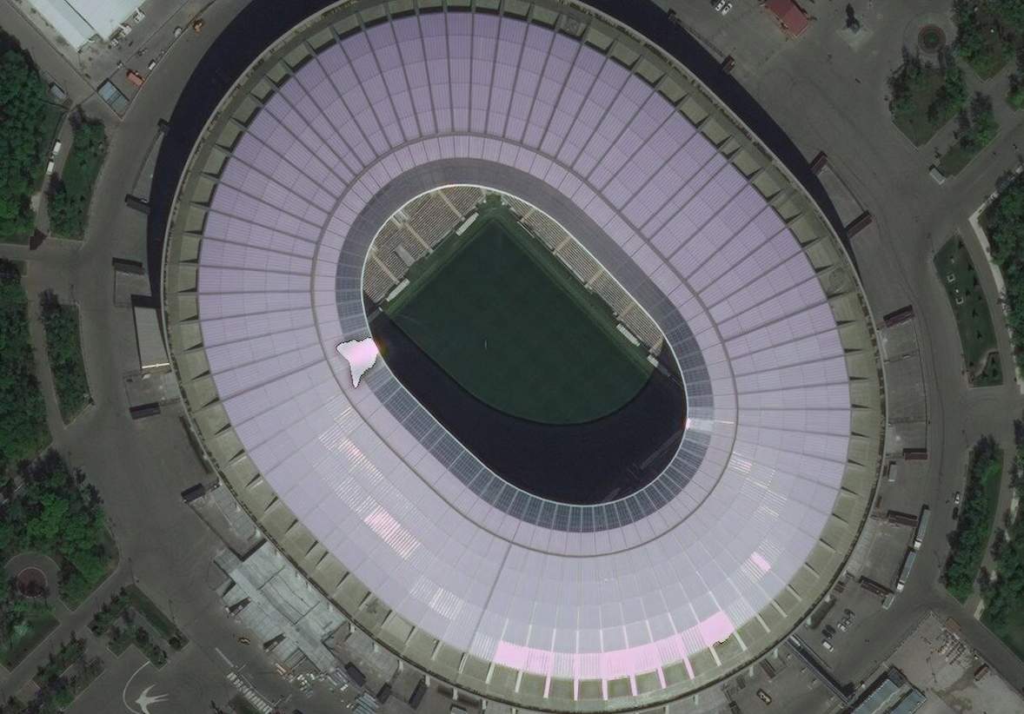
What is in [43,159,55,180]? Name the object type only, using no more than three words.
vehicle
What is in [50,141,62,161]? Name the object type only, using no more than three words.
vehicle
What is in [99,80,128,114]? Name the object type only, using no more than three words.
shed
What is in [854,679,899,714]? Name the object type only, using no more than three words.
building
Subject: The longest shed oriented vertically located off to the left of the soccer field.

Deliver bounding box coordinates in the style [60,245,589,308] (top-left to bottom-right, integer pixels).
[135,307,169,369]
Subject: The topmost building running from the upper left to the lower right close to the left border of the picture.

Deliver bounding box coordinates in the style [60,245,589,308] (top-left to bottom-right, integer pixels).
[25,0,96,50]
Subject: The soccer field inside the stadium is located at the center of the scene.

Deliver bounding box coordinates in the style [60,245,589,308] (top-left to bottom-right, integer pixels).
[369,188,686,505]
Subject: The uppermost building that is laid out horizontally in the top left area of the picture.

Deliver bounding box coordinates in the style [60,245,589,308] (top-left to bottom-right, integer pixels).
[65,0,150,42]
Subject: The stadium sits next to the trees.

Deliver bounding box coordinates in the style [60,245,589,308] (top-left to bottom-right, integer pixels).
[161,0,889,714]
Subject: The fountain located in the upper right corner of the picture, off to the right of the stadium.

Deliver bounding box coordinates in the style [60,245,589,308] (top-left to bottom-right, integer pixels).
[918,25,946,53]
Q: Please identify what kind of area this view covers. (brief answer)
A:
sports ground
